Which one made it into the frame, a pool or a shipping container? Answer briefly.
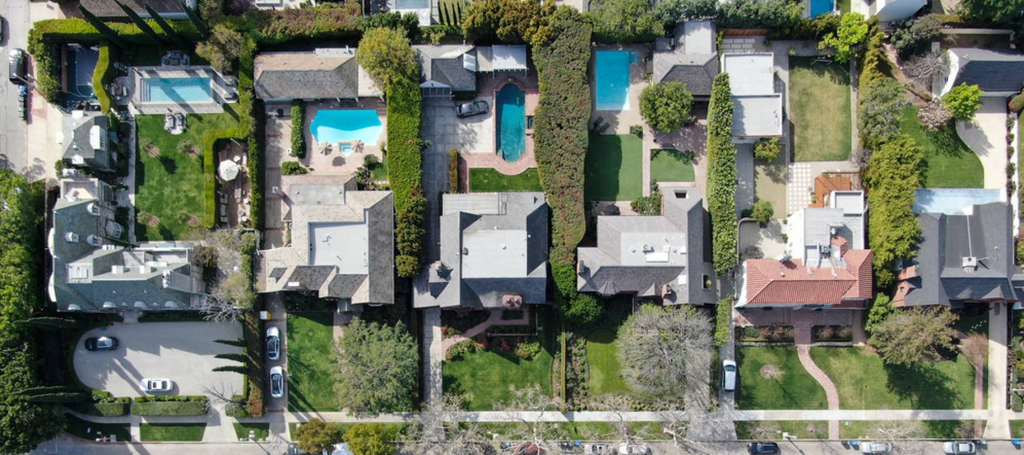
pool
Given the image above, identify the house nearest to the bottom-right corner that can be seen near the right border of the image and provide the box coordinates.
[883,203,1024,309]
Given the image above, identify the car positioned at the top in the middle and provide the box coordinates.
[456,100,489,117]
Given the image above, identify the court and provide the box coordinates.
[67,44,106,116]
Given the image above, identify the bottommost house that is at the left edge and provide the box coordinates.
[47,178,215,312]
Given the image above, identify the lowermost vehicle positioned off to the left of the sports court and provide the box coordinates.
[8,50,28,85]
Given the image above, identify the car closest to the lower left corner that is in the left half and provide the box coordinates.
[85,336,120,351]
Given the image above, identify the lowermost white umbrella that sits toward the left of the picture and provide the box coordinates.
[220,161,240,181]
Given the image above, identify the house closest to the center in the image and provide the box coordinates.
[414,192,547,311]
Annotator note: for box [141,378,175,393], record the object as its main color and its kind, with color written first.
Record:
white car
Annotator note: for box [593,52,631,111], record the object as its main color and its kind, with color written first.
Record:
blue swimming pool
